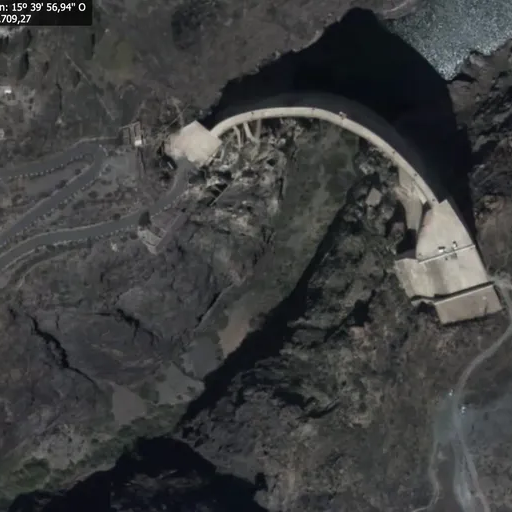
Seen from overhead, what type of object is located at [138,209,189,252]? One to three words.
building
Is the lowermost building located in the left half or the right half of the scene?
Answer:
right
